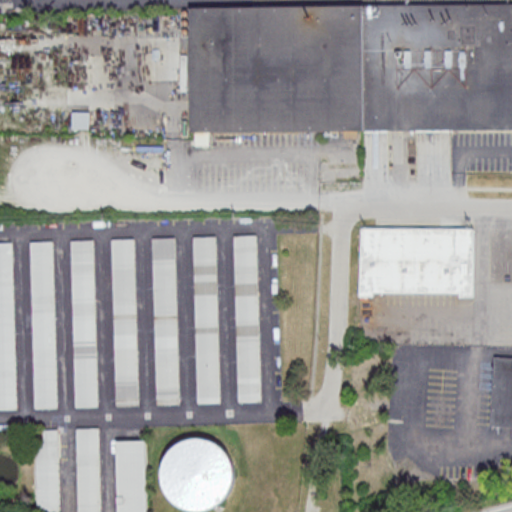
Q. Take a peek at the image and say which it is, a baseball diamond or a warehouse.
warehouse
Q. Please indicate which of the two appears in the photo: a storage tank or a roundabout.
storage tank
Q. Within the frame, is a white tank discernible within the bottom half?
Yes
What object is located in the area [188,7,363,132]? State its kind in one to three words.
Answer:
warehouse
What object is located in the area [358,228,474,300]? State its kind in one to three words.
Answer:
building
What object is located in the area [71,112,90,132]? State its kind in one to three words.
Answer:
shed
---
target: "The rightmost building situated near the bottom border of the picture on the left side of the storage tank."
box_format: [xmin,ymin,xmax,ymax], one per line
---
[111,438,148,512]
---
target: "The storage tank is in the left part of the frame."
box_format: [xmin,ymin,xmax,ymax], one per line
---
[158,436,234,512]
